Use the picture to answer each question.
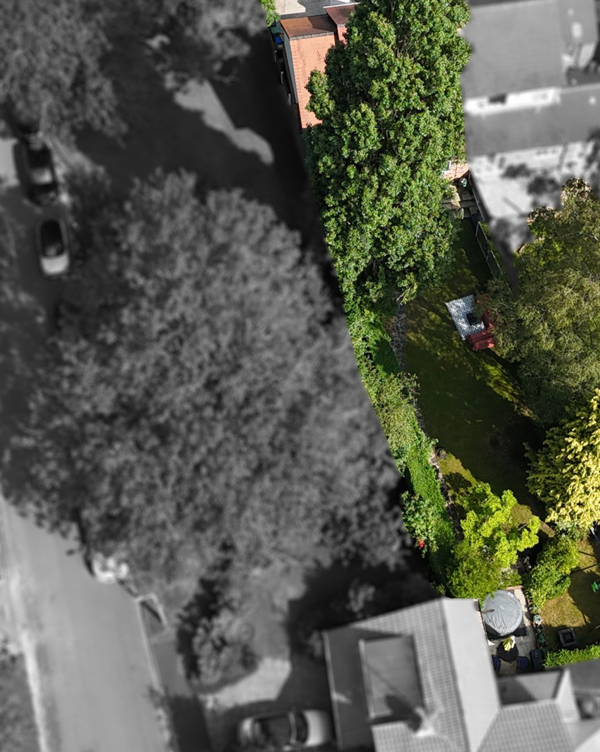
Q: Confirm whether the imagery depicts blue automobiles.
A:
No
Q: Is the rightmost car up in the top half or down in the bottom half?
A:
bottom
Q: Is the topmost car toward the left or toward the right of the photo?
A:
left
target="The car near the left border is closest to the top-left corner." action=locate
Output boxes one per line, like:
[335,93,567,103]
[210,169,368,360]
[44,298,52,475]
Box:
[17,134,58,202]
